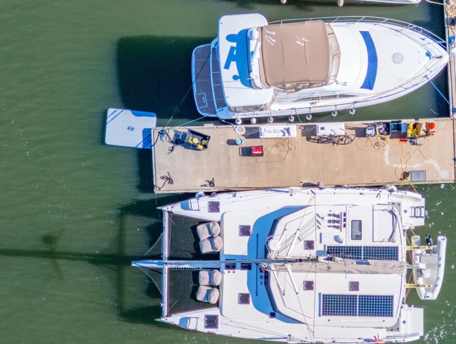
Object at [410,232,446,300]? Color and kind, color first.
white boat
